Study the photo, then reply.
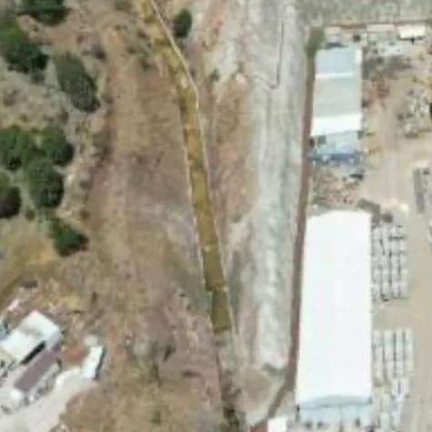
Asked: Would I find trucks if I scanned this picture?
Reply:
Yes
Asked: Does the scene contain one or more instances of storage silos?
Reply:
No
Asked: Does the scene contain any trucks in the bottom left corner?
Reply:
Yes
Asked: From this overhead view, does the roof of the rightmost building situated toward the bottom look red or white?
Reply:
white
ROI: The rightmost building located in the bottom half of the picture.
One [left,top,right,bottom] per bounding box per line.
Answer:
[297,209,372,419]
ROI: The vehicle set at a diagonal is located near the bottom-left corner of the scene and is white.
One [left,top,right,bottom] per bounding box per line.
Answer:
[40,366,76,398]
